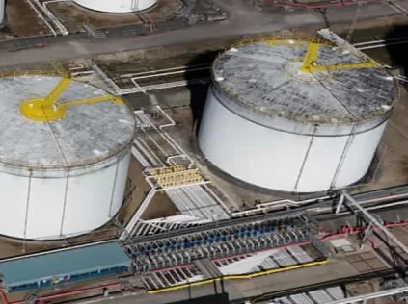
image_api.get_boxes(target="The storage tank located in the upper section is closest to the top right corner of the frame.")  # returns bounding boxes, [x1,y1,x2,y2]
[195,35,400,194]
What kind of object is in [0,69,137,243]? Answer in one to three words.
storage tank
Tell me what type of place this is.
industrial area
